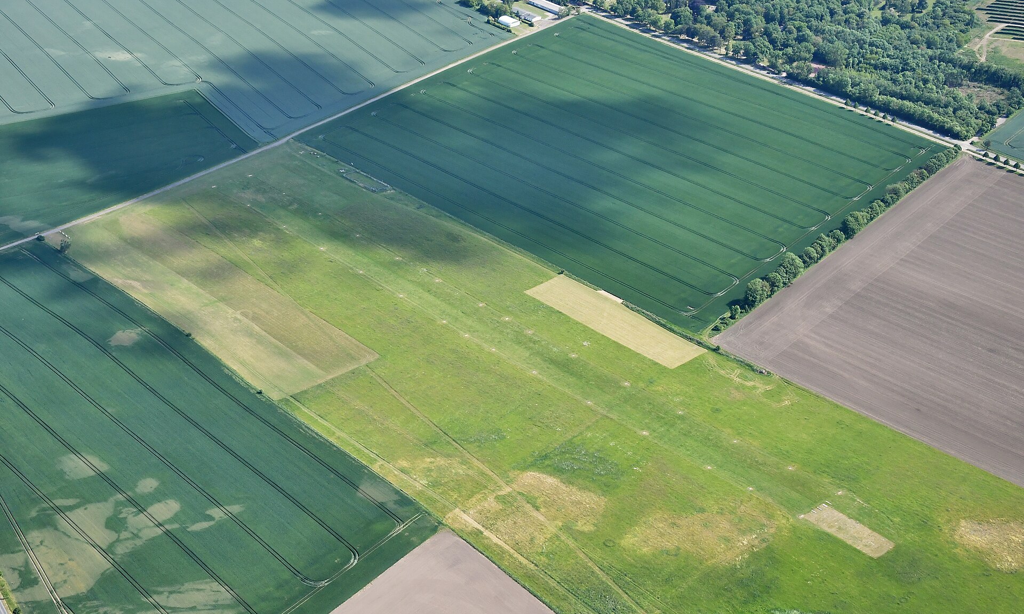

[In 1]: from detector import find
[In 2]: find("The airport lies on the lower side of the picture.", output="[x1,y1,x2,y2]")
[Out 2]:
[44,140,1024,614]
